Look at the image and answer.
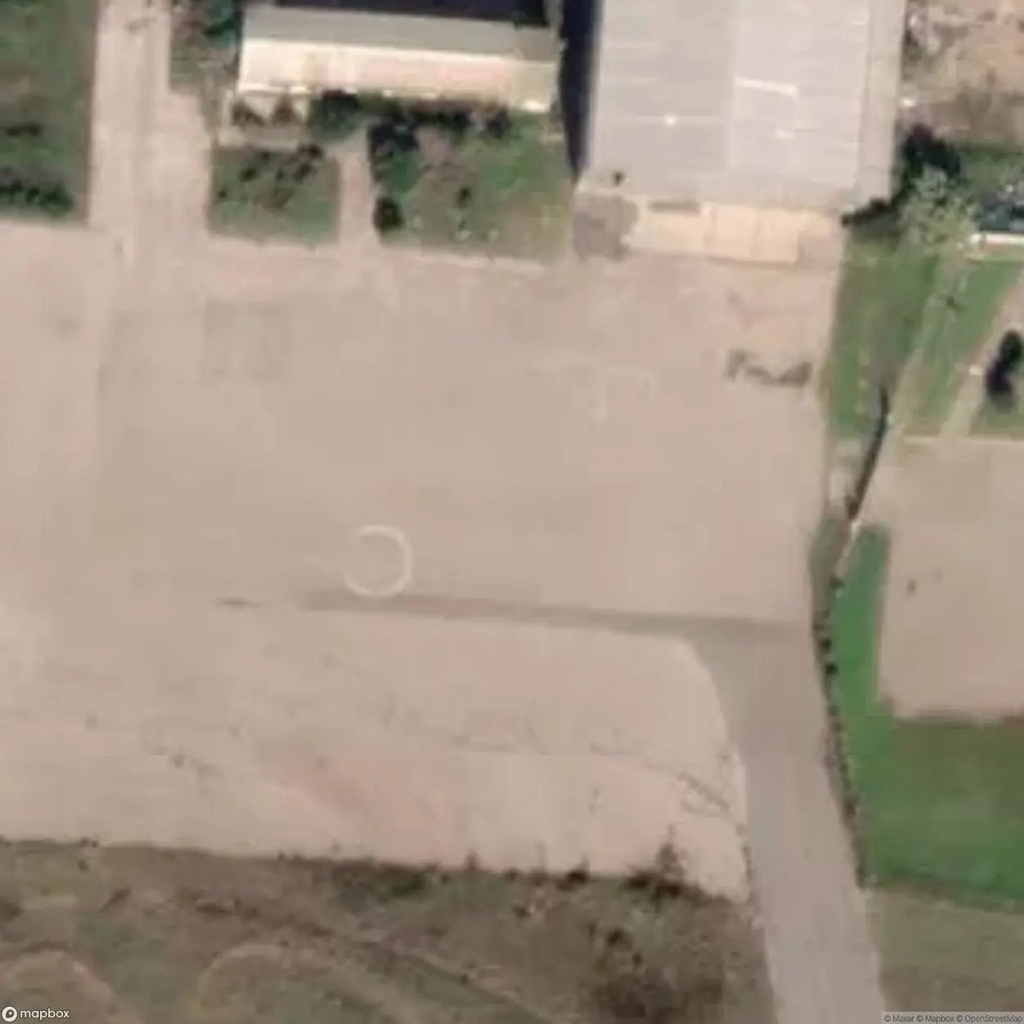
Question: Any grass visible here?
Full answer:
Yes, there's grass in this view.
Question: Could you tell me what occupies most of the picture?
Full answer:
The scene is dominated by paved ground.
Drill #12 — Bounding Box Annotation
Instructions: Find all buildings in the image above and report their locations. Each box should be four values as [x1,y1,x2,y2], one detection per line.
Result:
[232,5,556,122]
[971,194,1024,248]
[575,0,894,216]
